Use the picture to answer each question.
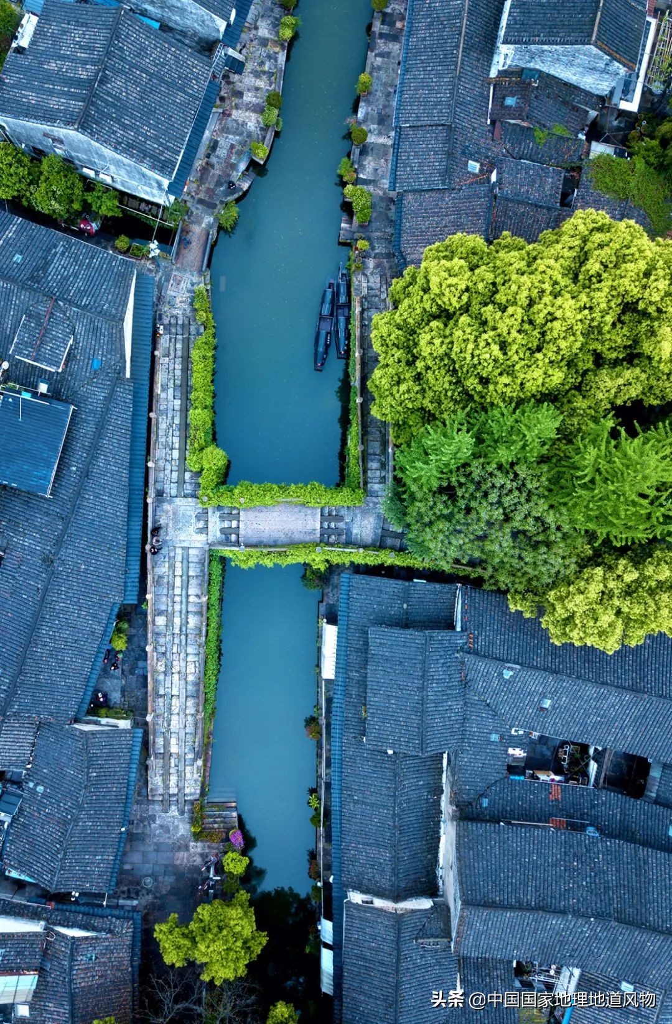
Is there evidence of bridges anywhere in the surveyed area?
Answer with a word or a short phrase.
Yes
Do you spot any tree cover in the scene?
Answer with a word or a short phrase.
Yes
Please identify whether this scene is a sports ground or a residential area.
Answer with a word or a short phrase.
residential area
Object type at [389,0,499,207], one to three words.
house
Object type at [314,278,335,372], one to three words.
boat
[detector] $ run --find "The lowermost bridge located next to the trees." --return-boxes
[145,294,491,799]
